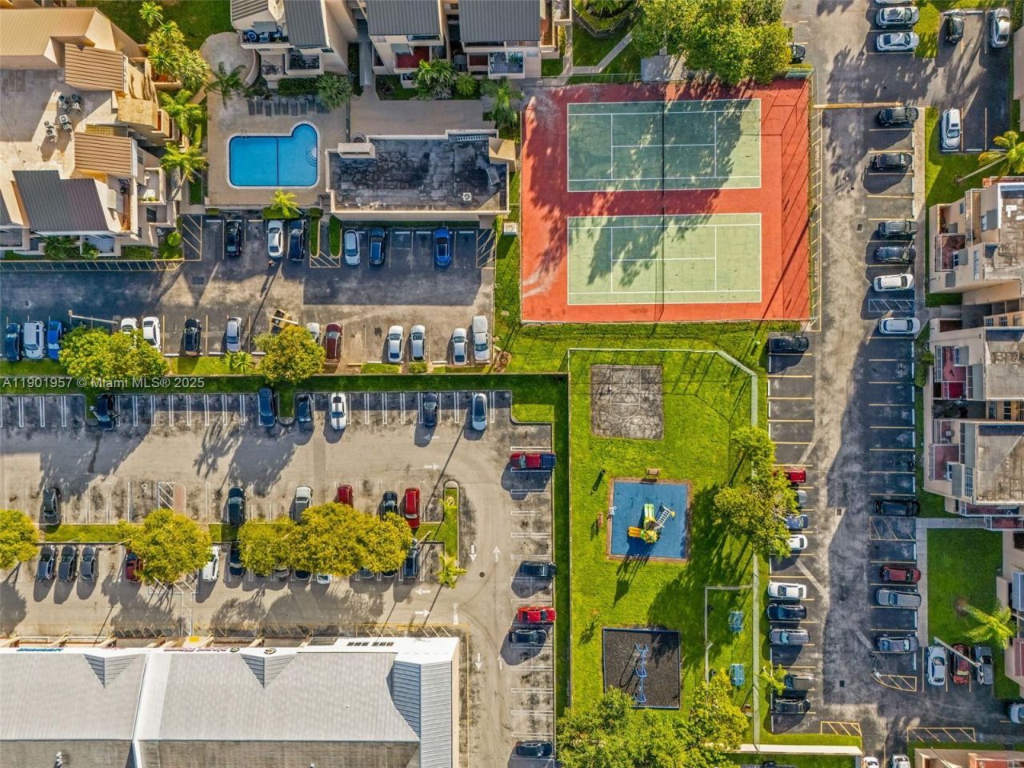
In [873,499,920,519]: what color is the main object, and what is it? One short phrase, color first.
black vehicle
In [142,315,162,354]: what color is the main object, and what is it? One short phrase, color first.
white car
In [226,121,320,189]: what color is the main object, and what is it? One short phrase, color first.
blue swimming pool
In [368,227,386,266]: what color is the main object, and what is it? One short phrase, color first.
blue car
